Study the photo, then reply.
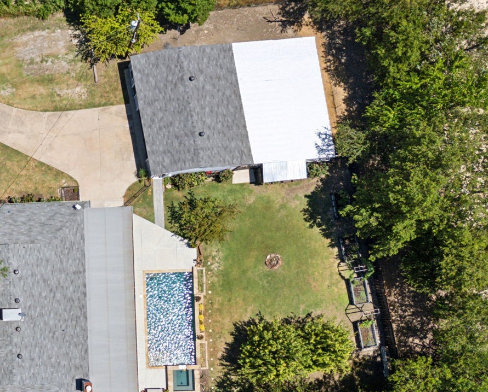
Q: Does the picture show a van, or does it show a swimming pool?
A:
swimming pool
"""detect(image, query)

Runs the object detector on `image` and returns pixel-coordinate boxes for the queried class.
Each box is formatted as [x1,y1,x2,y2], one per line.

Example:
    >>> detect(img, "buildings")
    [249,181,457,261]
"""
[0,200,139,392]
[129,36,334,182]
